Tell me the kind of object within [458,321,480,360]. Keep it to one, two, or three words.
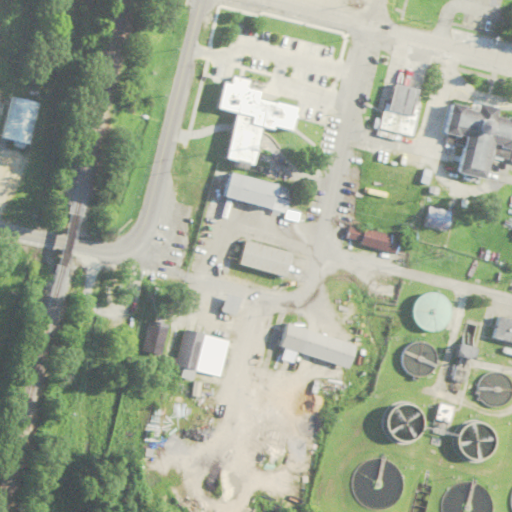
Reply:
building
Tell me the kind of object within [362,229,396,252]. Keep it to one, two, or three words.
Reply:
house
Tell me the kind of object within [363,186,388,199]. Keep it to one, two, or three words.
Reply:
vehicle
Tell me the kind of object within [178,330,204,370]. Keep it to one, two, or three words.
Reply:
shed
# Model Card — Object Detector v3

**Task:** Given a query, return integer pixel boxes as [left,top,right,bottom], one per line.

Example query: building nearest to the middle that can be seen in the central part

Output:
[238,242,294,278]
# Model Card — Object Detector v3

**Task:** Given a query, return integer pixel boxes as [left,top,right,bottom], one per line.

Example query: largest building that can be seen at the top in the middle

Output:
[218,76,299,171]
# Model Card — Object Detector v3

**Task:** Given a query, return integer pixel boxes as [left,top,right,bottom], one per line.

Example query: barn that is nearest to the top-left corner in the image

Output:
[3,98,40,144]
